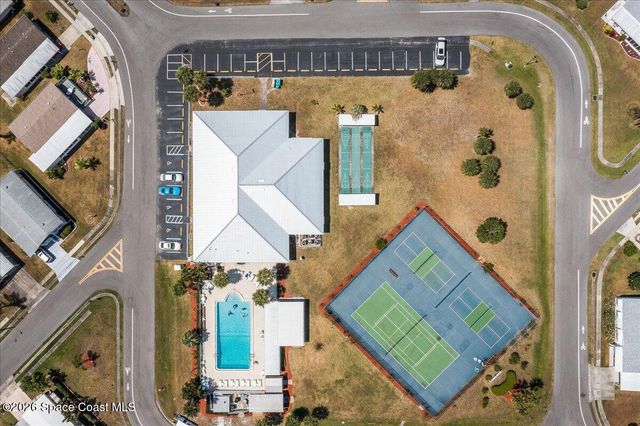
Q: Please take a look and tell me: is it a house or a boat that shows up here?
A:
house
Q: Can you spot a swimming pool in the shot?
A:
Yes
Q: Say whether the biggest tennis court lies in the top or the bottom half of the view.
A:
bottom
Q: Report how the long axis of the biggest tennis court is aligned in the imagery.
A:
diagonally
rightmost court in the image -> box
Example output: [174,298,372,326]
[449,287,511,348]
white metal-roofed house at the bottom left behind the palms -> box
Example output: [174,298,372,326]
[14,391,87,426]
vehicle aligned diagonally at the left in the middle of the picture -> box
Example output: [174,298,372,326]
[36,247,56,264]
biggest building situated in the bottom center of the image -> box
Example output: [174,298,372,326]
[264,299,305,375]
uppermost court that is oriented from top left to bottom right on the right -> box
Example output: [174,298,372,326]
[394,232,455,294]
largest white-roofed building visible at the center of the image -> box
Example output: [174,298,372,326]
[192,111,324,262]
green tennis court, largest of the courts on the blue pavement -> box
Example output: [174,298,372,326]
[351,281,460,389]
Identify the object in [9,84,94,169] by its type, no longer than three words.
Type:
house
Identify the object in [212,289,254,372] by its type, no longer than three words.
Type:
swimming pool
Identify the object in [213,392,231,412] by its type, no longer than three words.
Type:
building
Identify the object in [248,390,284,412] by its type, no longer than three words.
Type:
shed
